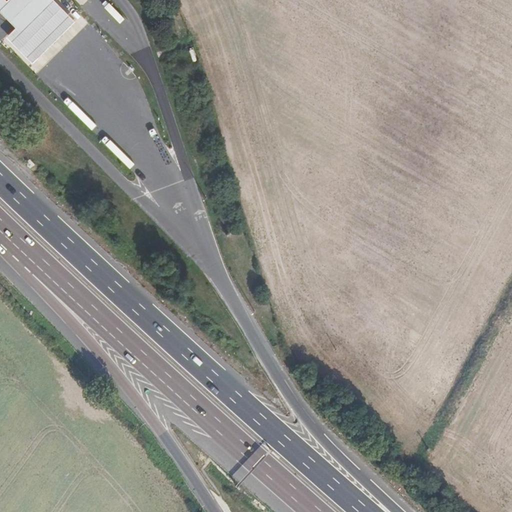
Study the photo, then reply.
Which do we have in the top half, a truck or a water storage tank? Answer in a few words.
truck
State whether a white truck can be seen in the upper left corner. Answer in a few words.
Yes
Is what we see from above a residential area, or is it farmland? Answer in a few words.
farmland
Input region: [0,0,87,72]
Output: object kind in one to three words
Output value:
building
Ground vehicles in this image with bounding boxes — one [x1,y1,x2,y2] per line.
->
[135,169,146,180]
[3,228,13,238]
[153,322,164,332]
[125,352,136,364]
[24,236,36,246]
[69,9,82,20]
[150,129,170,164]
[60,0,70,8]
[196,406,207,416]
[101,134,134,168]
[243,442,254,452]
[6,185,17,196]
[208,384,219,394]
[0,245,6,254]
[189,48,198,63]
[100,0,124,24]
[190,353,204,366]
[63,96,96,130]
